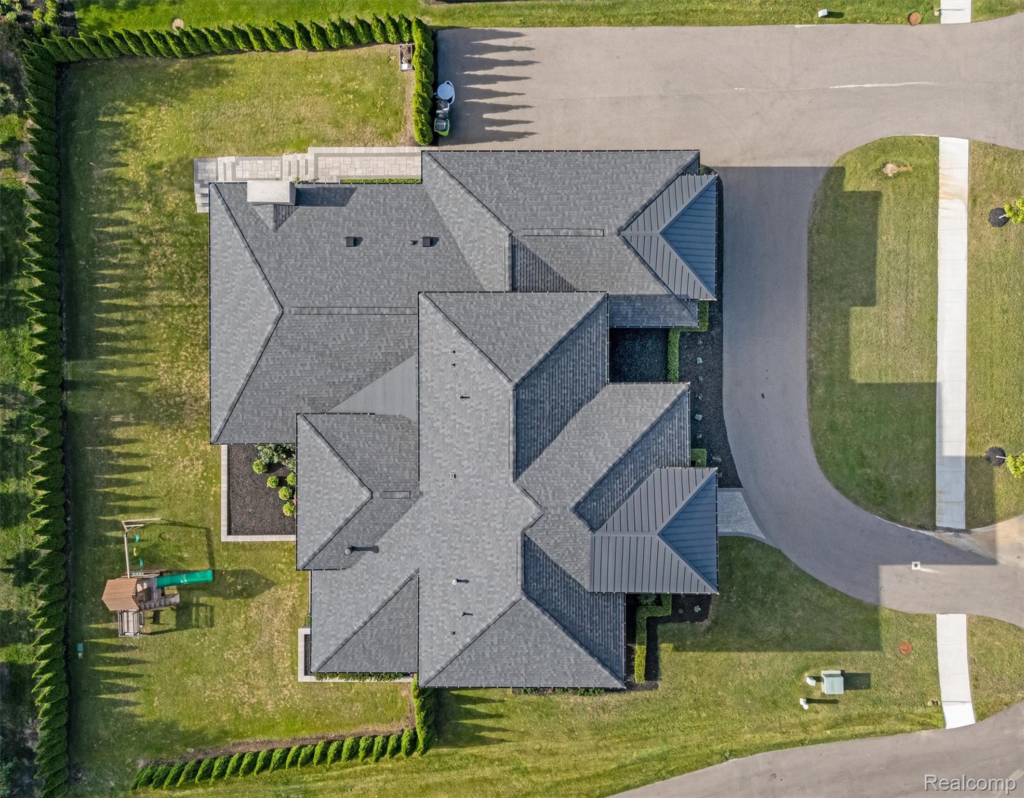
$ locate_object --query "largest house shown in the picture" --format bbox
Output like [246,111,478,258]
[209,151,718,688]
